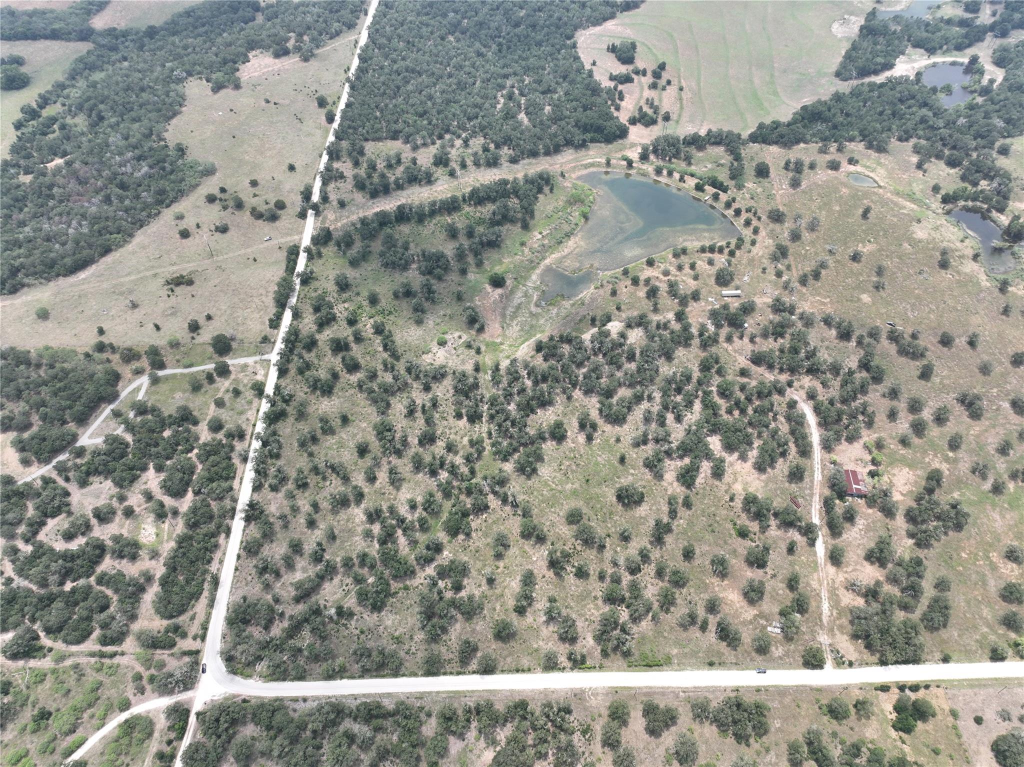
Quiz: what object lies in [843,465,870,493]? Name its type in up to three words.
barn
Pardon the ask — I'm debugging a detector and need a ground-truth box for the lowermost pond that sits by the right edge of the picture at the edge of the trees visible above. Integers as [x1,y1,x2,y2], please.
[947,209,1024,273]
